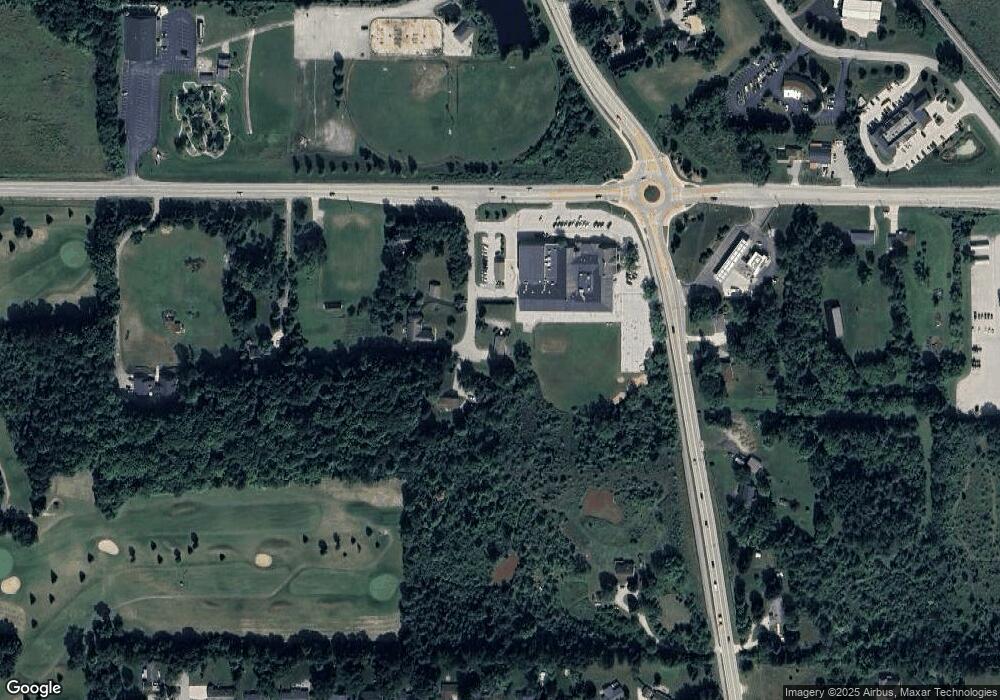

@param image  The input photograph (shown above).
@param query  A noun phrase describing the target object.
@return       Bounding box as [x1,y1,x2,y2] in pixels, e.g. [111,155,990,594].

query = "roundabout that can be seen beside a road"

[600,149,704,240]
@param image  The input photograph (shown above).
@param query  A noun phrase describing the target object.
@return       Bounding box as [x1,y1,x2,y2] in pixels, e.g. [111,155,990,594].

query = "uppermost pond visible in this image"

[486,0,533,56]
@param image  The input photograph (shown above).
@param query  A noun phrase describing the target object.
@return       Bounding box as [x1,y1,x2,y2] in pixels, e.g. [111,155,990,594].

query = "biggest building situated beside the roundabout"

[519,245,620,311]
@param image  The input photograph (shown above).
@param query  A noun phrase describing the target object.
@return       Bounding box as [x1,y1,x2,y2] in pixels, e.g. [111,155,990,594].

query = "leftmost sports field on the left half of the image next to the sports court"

[294,61,368,156]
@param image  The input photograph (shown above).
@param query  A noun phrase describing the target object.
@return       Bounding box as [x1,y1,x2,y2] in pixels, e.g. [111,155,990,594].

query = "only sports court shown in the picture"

[369,19,442,57]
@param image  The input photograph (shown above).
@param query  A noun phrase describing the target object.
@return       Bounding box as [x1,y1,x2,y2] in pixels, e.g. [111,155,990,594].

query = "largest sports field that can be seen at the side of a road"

[344,58,559,167]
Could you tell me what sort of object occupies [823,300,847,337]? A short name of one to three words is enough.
barn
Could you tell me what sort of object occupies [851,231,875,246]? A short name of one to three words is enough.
house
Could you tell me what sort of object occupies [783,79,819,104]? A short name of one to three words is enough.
building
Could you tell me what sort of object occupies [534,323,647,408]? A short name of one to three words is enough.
sports field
